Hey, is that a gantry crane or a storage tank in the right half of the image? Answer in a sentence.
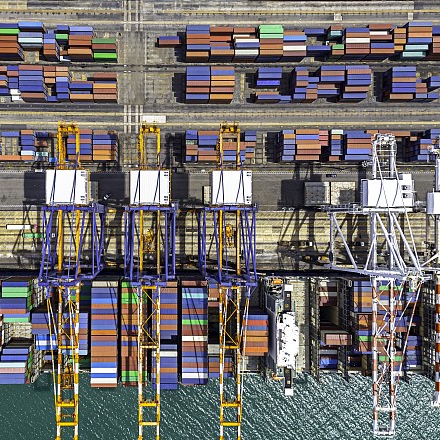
You can see a gantry crane in the right half of the image.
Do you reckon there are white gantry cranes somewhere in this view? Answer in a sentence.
Yes, I can see a white gantry crane in this picture.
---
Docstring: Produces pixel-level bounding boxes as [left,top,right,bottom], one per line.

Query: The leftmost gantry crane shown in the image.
[34,121,111,440]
